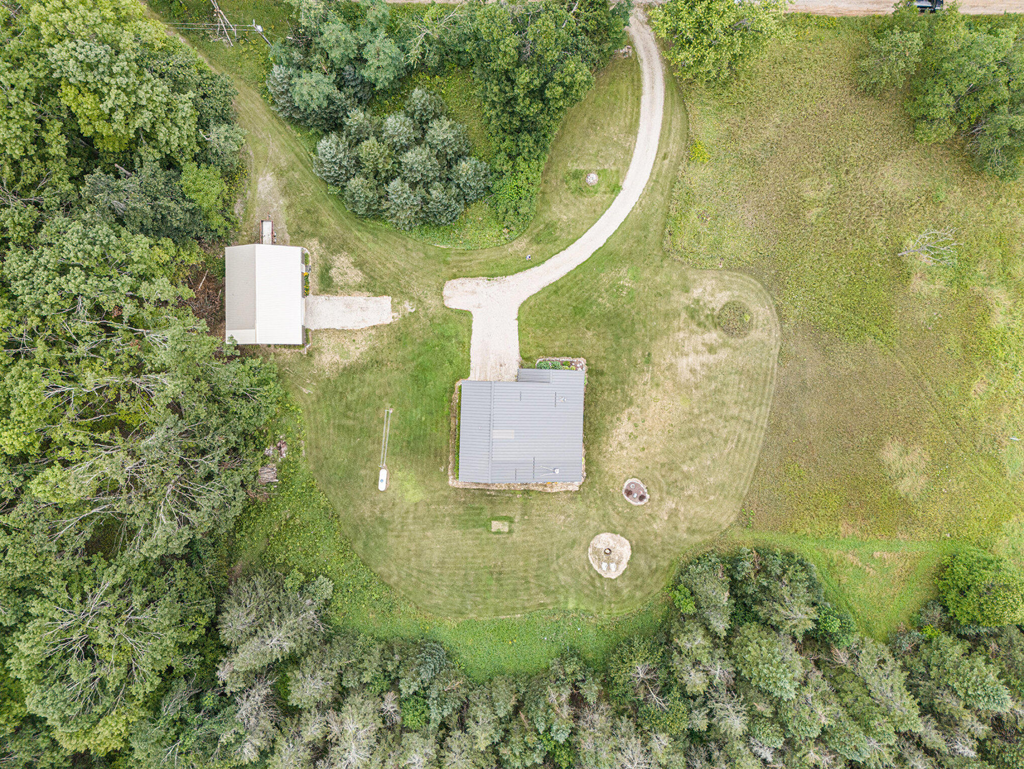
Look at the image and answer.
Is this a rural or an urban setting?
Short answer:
rural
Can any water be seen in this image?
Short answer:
No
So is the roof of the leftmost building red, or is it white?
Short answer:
white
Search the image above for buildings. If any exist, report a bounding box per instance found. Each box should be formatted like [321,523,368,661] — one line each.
[225,243,310,345]
[458,369,586,484]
